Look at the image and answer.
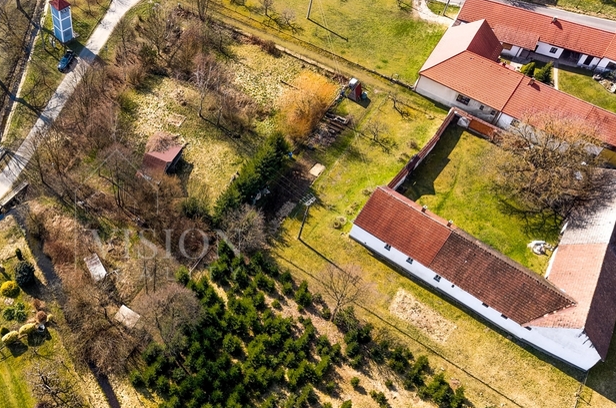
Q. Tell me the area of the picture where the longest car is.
top left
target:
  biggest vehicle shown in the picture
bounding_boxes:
[56,43,77,69]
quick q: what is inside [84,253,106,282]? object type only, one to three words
shed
